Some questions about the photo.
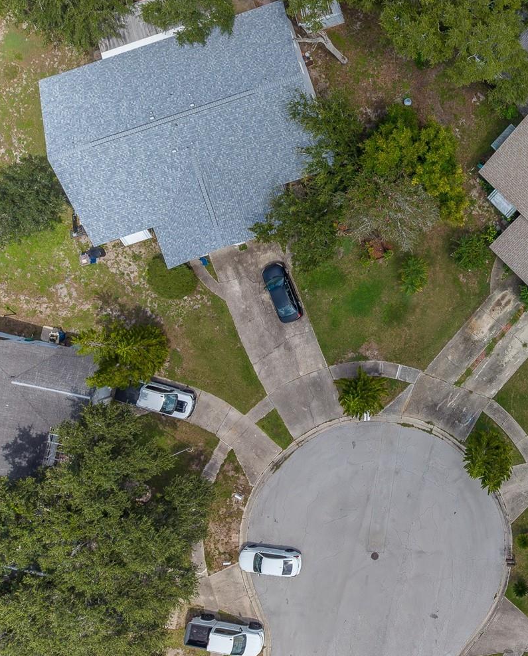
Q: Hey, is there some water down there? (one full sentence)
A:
No, water can't be seen anywhere here.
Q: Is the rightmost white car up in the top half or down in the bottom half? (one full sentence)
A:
Seen from above, the rightmost white car lies in the bottom half of the view.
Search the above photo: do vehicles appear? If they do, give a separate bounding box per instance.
[114,378,202,420]
[240,542,305,577]
[262,260,305,324]
[184,614,268,656]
